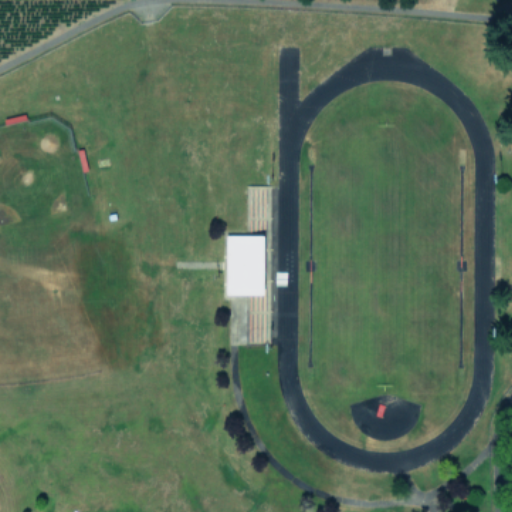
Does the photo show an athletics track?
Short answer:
Yes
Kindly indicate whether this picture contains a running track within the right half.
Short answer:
Yes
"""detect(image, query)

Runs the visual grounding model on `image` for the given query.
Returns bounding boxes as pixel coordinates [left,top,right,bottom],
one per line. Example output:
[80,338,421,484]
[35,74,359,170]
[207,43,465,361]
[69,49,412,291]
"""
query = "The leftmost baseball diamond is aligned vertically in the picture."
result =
[0,119,117,384]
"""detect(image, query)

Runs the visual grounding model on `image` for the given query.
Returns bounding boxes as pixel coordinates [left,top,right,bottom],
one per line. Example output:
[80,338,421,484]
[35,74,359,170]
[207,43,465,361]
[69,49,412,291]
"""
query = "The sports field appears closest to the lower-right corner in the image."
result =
[298,80,475,452]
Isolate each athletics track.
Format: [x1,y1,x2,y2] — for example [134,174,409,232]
[278,48,496,472]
